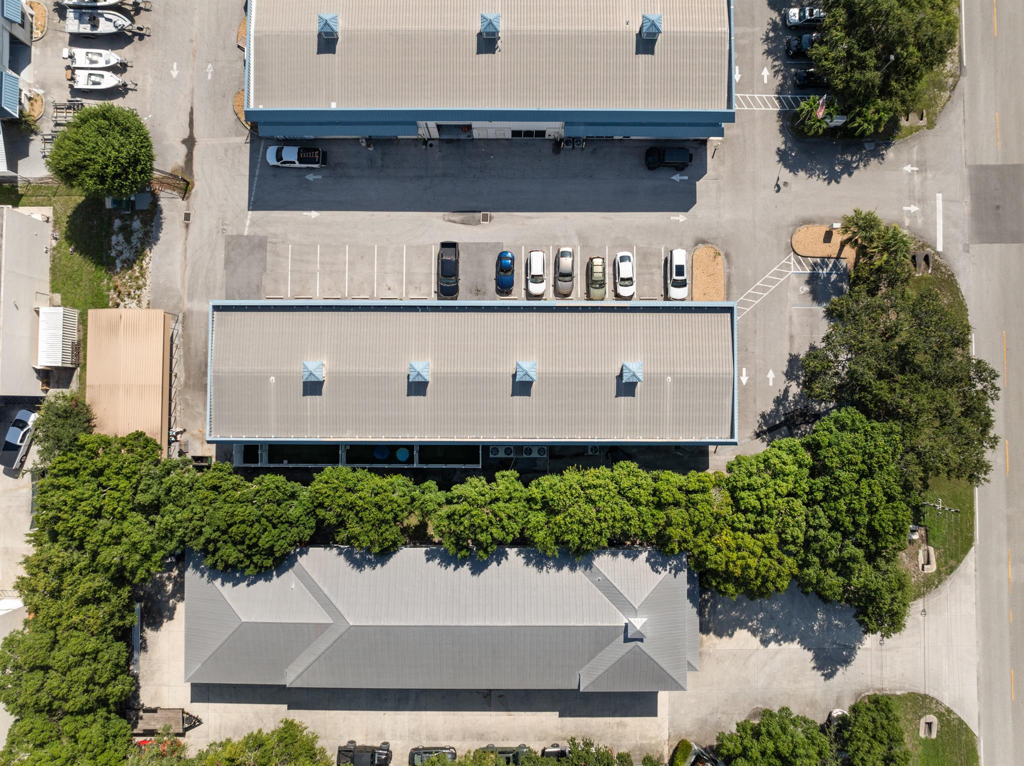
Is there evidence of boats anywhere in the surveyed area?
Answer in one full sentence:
Yes, a boat can be made out from above.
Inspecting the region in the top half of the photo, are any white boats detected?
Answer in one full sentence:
Yes, I can see a white boat in the top half of the photo.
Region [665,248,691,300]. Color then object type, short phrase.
white car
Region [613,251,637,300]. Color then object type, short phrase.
white car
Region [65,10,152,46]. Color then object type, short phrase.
white boat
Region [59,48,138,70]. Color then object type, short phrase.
white boat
